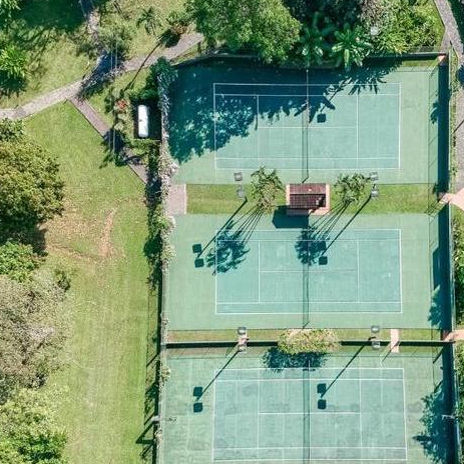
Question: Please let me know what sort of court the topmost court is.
tennis court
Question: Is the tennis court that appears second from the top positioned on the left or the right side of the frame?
right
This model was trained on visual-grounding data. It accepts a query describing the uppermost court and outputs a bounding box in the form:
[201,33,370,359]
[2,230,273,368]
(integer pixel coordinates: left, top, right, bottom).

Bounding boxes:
[168,56,442,184]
